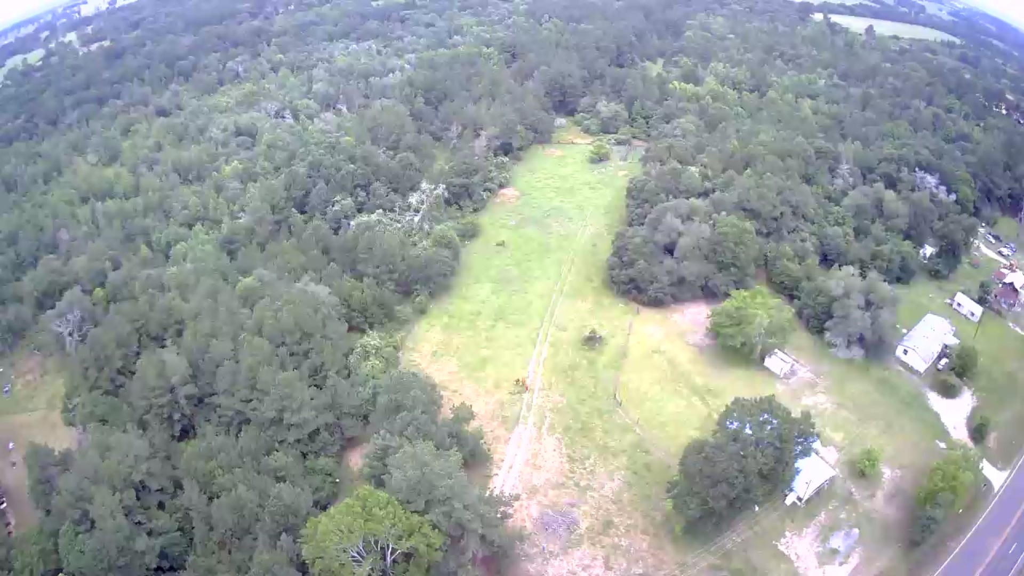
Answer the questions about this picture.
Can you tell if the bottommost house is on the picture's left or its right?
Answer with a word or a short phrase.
right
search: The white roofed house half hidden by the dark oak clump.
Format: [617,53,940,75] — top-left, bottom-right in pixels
[773,446,840,512]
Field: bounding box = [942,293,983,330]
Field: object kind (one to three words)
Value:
house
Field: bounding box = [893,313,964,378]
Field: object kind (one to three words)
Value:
house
